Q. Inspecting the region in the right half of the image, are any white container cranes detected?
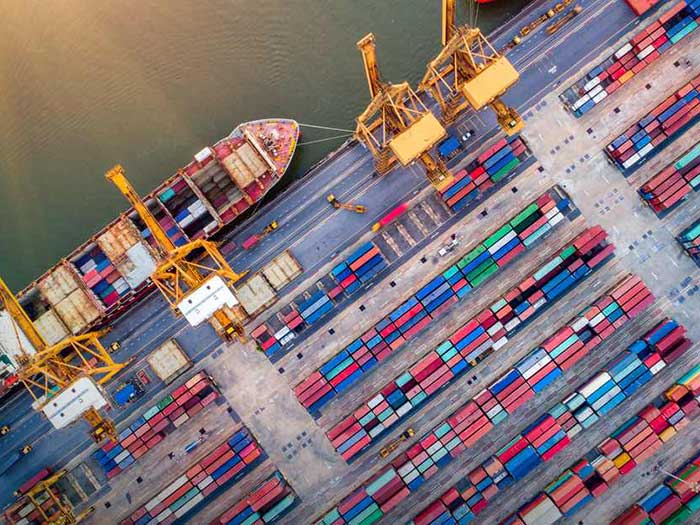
No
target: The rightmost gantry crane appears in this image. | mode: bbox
[411,0,525,132]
